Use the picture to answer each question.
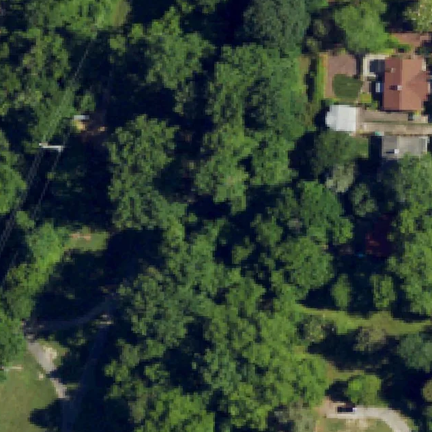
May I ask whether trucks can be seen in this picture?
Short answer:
No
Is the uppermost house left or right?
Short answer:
right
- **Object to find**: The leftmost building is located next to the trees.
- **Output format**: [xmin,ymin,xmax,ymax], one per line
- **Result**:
[325,105,358,130]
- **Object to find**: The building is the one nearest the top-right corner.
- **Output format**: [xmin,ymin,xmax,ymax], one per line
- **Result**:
[384,58,431,110]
